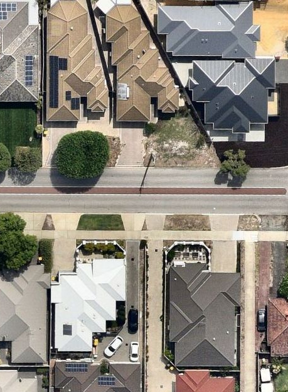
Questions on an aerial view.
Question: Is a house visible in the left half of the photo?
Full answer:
Yes, looking in the left half of the photo, one can make out a house.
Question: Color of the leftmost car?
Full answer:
The leftmost car looks white in the image.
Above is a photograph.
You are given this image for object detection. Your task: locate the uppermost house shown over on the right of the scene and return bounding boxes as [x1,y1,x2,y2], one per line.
[156,1,260,59]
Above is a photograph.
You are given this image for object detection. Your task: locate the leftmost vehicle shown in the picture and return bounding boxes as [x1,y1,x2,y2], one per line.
[103,334,123,359]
